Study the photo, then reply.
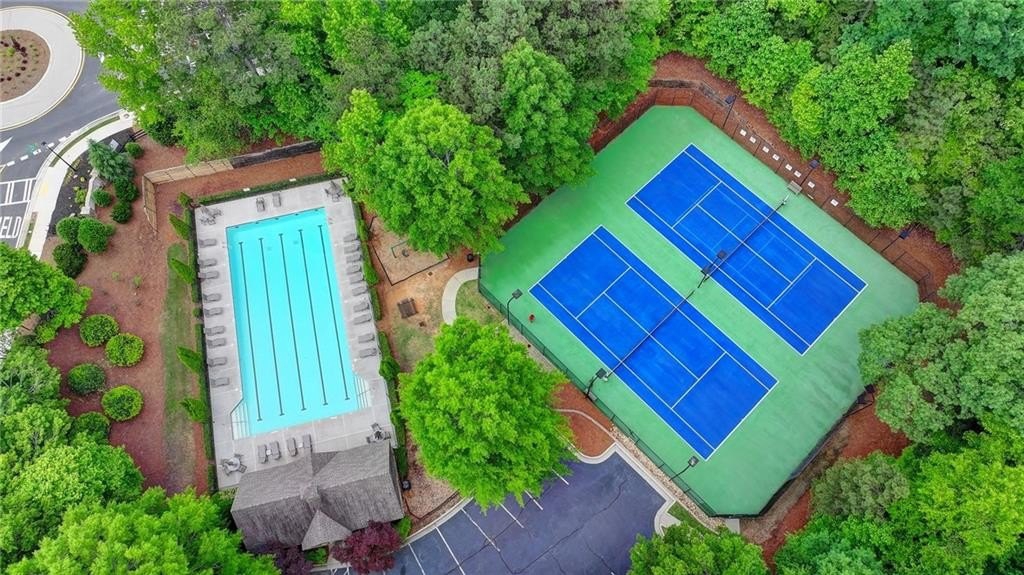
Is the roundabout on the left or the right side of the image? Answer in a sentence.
The roundabout appears in the left half of the scene.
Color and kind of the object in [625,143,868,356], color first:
blue tennis court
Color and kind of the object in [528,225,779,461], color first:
blue tennis court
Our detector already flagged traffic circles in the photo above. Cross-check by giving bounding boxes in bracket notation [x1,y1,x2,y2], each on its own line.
[0,6,84,130]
